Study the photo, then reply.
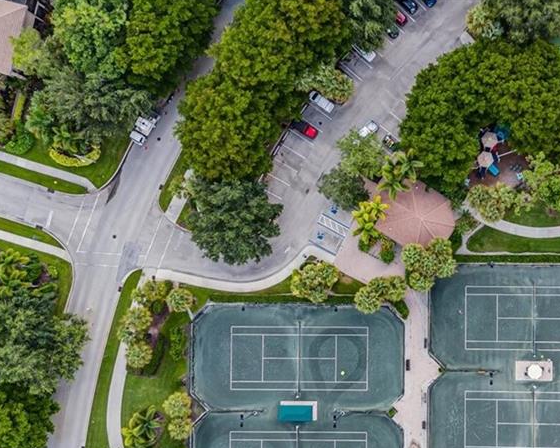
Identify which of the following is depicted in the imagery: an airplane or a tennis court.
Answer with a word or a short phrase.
tennis court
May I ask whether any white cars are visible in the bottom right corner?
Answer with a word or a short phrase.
No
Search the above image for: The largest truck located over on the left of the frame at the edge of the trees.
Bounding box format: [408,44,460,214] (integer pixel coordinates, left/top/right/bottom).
[130,111,160,149]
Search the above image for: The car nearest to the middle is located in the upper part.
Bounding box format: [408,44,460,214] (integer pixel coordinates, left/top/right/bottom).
[290,119,318,140]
